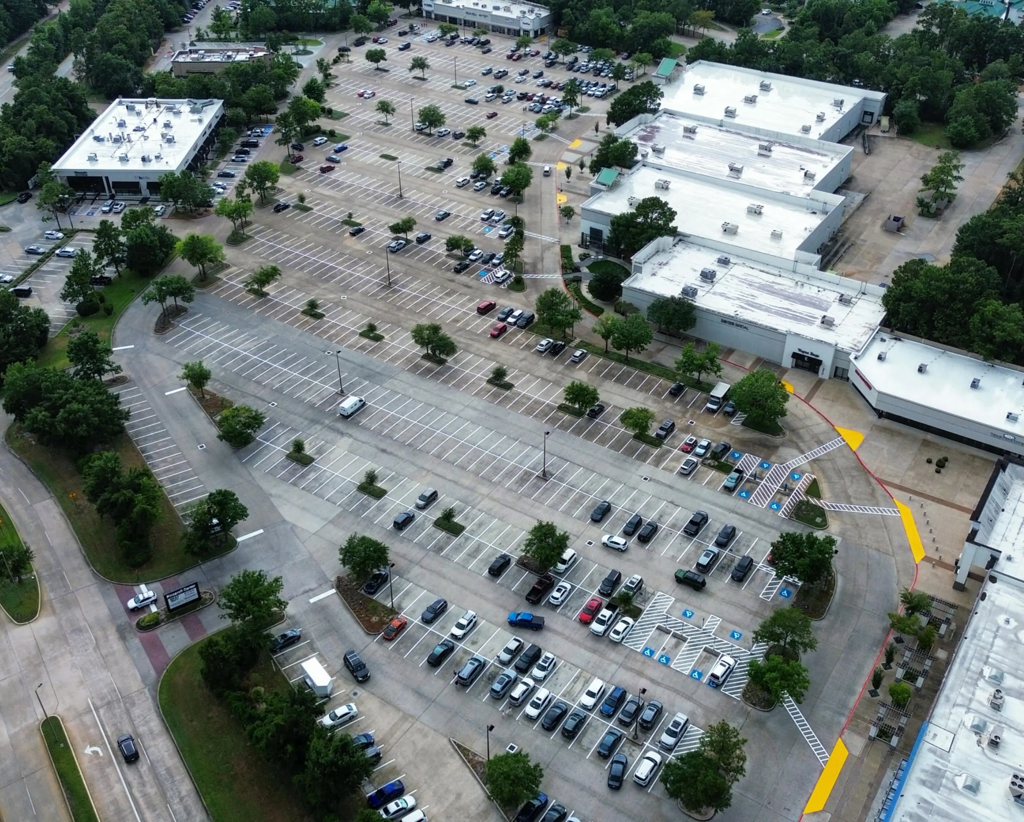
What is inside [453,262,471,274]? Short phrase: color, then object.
black vehicle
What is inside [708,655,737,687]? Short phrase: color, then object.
white car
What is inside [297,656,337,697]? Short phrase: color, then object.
white trailer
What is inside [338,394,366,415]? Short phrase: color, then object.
white vehicle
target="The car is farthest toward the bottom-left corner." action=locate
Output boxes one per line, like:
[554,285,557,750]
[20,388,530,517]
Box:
[117,732,141,766]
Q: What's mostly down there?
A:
paved ground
